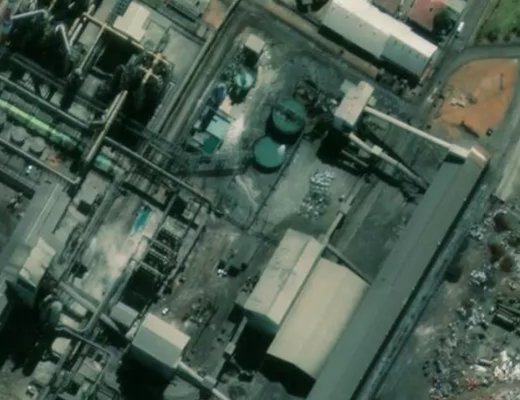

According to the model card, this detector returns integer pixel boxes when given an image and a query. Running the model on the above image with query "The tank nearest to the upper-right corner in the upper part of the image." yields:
[272,100,306,136]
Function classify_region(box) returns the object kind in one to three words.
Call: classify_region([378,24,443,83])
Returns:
building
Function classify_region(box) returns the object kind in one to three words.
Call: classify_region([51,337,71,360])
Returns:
shed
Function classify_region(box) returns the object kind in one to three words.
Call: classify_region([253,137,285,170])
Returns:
storage tank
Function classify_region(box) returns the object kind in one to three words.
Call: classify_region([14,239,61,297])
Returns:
house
